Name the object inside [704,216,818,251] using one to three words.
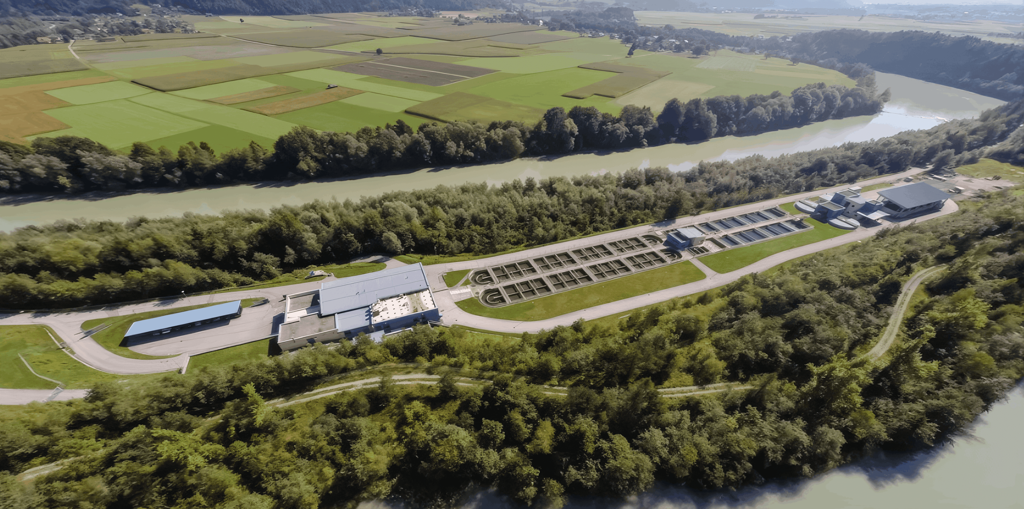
storage tank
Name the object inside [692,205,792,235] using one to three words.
storage tank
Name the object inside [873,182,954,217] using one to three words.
building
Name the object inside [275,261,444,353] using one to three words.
building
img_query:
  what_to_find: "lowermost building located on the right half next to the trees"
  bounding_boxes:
[666,226,706,249]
